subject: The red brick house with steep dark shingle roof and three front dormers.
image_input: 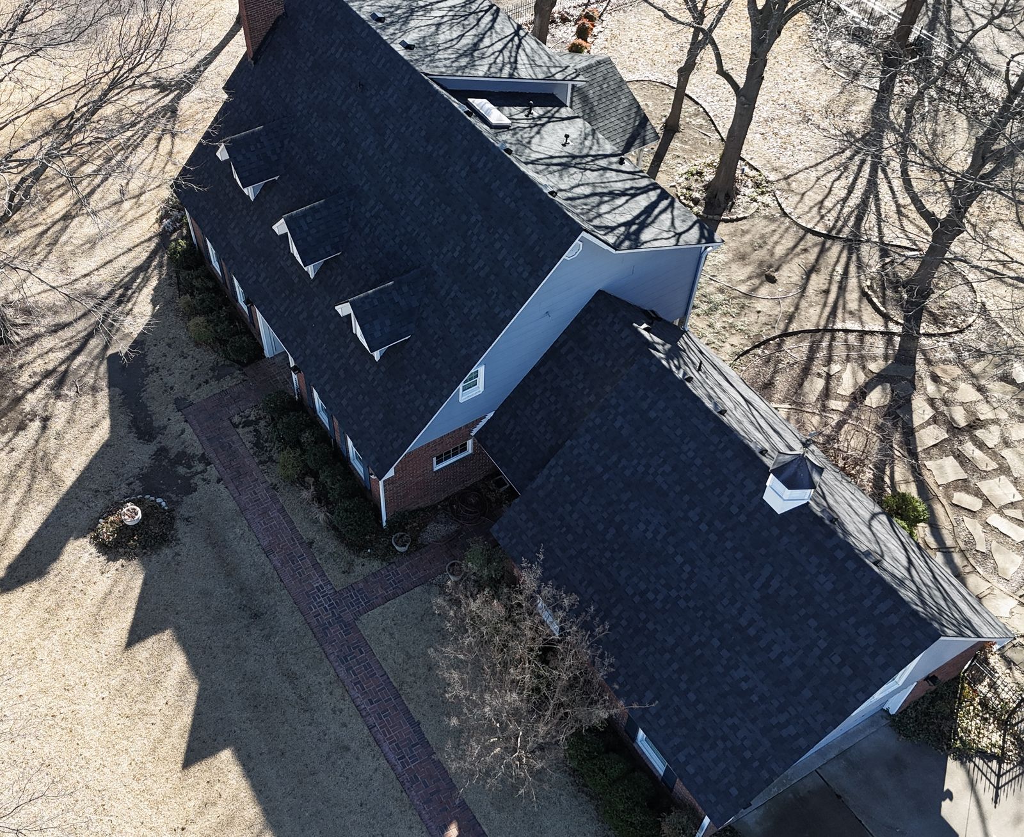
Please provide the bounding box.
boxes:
[171,0,722,528]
